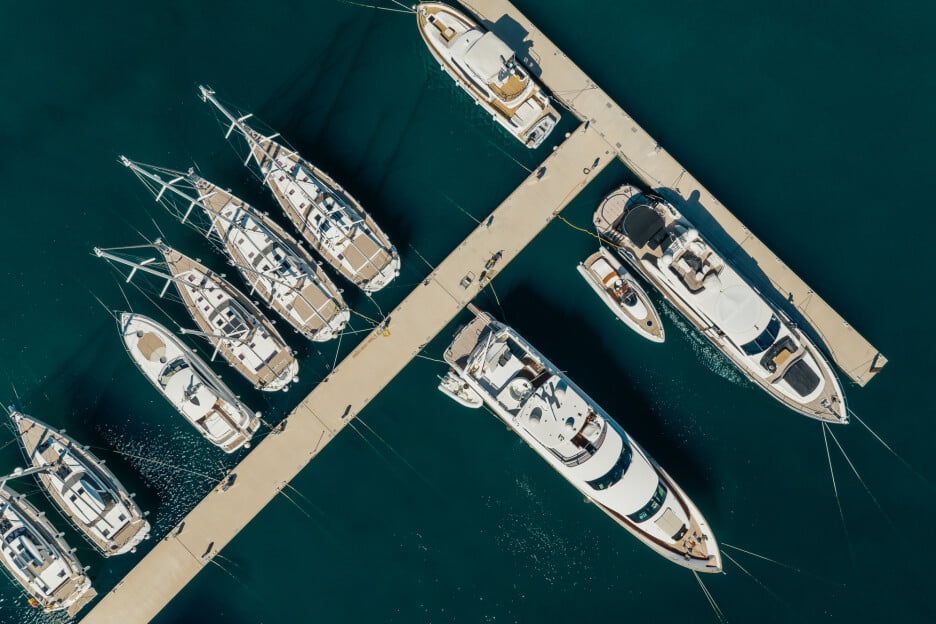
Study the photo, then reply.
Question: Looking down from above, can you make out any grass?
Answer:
No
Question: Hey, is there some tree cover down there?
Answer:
No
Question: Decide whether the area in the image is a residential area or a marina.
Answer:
marina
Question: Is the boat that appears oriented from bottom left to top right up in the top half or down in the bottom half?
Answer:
top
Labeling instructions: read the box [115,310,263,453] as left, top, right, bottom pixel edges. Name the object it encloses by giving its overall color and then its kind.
white boat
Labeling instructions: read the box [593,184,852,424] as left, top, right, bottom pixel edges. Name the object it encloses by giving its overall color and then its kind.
white boat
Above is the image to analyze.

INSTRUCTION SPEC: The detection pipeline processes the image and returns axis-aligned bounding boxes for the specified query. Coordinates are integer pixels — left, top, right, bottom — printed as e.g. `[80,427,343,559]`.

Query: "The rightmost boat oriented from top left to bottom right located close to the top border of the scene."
[416,0,561,153]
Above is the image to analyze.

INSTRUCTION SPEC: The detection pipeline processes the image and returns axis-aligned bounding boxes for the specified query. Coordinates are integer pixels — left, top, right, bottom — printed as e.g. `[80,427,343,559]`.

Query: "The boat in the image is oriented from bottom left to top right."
[525,116,556,145]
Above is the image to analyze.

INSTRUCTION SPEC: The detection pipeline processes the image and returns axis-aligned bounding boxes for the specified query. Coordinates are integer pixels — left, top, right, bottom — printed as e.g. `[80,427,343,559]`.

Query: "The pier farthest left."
[80,122,619,624]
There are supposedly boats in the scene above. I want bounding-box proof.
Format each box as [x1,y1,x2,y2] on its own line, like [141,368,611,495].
[416,0,561,153]
[525,116,556,145]
[115,310,263,453]
[593,184,852,424]
[437,370,485,406]
[90,237,302,390]
[0,409,155,555]
[445,301,729,577]
[0,482,96,619]
[191,80,399,294]
[112,156,351,343]
[573,243,667,344]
